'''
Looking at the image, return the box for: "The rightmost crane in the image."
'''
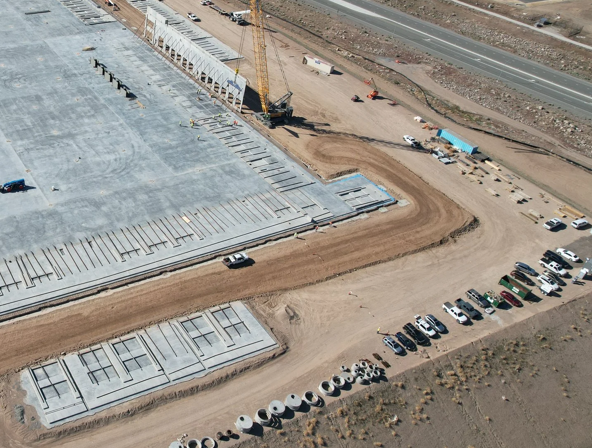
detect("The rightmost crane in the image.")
[250,0,295,128]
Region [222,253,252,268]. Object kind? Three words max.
vehicle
